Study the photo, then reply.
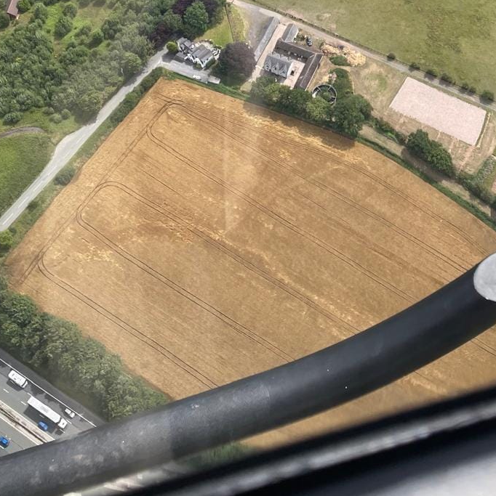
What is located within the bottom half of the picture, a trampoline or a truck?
truck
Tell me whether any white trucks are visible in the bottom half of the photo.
Yes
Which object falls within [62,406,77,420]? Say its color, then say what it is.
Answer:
white vehicle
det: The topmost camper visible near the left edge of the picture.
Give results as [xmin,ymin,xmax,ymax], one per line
[8,369,28,388]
